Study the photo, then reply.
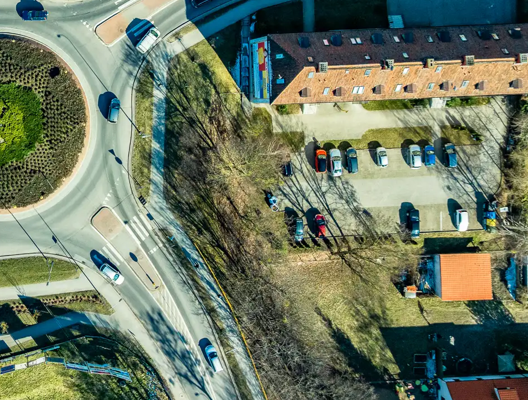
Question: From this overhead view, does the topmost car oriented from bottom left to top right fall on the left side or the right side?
left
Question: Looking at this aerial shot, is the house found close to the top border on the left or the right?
right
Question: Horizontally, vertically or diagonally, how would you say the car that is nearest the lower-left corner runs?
diagonally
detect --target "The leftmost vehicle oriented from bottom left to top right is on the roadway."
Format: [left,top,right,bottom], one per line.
[134,27,162,55]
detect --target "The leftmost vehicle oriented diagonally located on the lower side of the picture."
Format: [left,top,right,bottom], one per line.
[99,260,125,285]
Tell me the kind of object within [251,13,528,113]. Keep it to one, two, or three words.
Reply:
house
